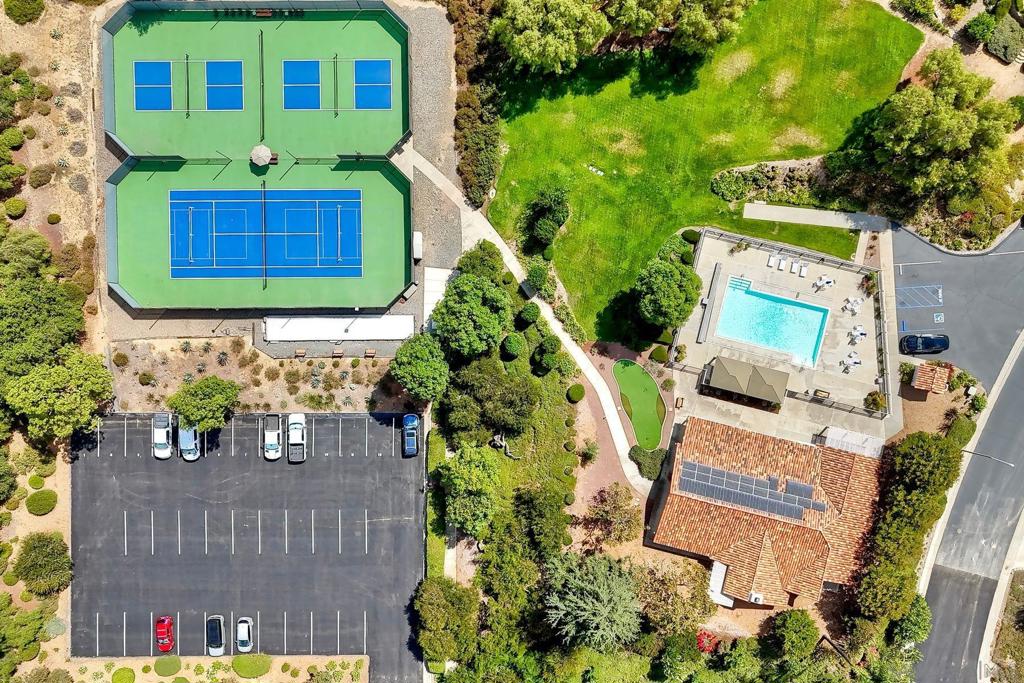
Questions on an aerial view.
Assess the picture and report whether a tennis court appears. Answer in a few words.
Yes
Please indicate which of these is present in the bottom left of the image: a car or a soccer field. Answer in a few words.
car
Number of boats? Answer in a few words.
0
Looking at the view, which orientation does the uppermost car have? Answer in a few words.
horizontally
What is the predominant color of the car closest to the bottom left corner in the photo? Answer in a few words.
red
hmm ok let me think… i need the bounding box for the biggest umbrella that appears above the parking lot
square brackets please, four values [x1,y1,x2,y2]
[250,145,271,166]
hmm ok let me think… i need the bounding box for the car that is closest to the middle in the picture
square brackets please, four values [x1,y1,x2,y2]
[402,415,421,457]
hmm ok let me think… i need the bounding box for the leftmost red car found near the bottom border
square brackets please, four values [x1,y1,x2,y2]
[156,613,177,650]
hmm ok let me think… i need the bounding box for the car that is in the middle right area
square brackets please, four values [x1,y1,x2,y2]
[898,334,946,354]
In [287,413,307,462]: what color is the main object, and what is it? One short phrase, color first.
white vehicle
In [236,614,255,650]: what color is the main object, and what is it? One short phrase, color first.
white car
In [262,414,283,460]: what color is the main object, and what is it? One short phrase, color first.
white truck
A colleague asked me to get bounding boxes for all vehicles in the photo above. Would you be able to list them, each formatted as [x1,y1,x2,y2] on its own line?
[156,613,177,650]
[287,413,307,462]
[898,334,946,354]
[178,424,199,460]
[262,414,283,460]
[206,612,228,654]
[236,614,255,650]
[402,415,421,457]
[151,413,173,459]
